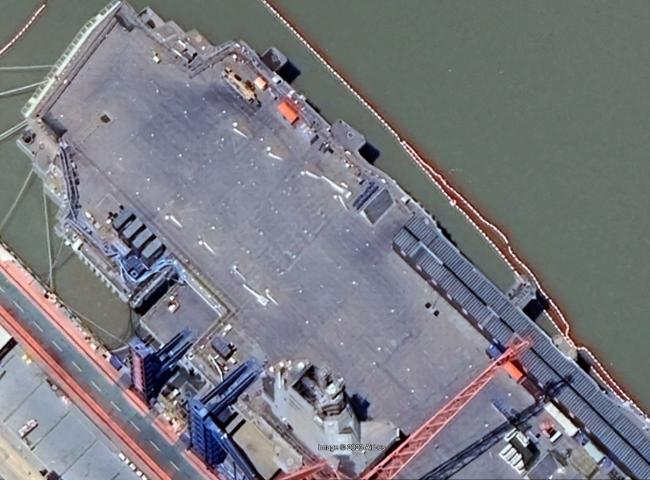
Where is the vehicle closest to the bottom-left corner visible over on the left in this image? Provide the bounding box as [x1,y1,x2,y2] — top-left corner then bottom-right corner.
[15,417,40,436]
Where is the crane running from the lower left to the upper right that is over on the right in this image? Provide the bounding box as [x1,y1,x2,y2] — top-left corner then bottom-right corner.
[271,337,534,480]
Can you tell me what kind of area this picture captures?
port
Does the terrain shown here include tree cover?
No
